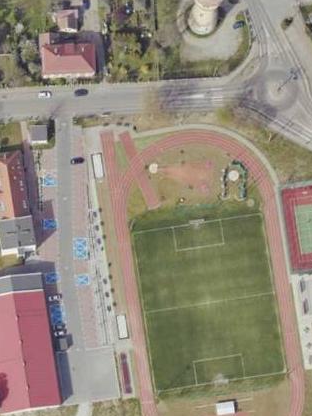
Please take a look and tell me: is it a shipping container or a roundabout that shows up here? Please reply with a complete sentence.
It is a roundabout that can be seen here.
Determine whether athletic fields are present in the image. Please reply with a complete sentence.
Yes, an athletic field can be made out from above.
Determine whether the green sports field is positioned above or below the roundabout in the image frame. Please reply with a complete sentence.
Looking at the scene, the green sports field is located below the roundabout.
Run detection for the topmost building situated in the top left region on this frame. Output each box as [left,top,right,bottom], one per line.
[57,8,78,32]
